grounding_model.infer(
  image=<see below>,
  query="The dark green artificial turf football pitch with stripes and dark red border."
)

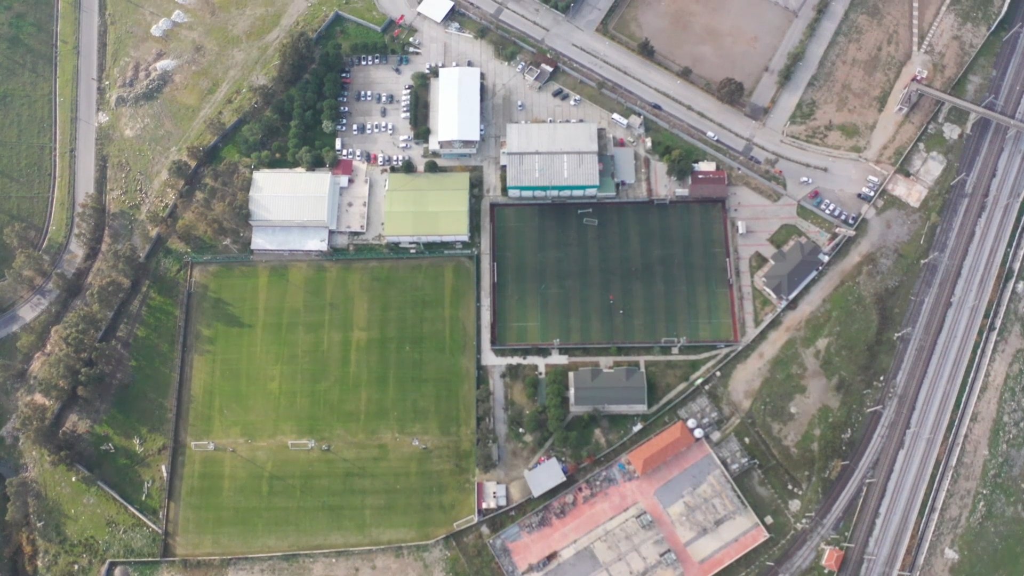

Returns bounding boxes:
[491,200,739,348]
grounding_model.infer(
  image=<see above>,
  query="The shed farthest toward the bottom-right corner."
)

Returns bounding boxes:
[820,547,845,573]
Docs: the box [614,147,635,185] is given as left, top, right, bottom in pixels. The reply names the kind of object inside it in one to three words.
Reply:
shed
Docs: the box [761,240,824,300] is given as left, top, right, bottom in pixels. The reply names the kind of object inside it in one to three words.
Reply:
house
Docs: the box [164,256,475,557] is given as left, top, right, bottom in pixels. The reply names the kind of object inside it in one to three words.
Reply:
soccer field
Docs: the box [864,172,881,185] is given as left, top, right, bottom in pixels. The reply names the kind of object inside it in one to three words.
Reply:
vehicle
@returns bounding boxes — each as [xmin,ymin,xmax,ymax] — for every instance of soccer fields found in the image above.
[164,256,475,557]
[491,200,739,348]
